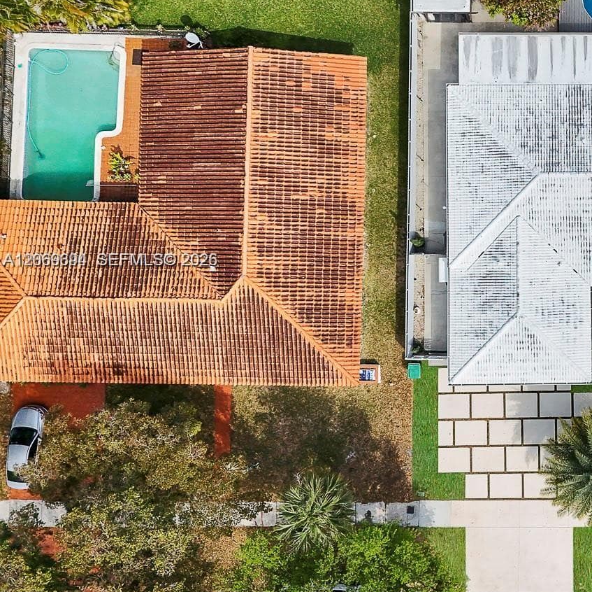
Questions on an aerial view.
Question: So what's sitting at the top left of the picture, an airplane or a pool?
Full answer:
You can see a pool at the top left of the picture.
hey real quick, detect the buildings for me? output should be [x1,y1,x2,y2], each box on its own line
[0,45,364,387]
[445,33,592,388]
